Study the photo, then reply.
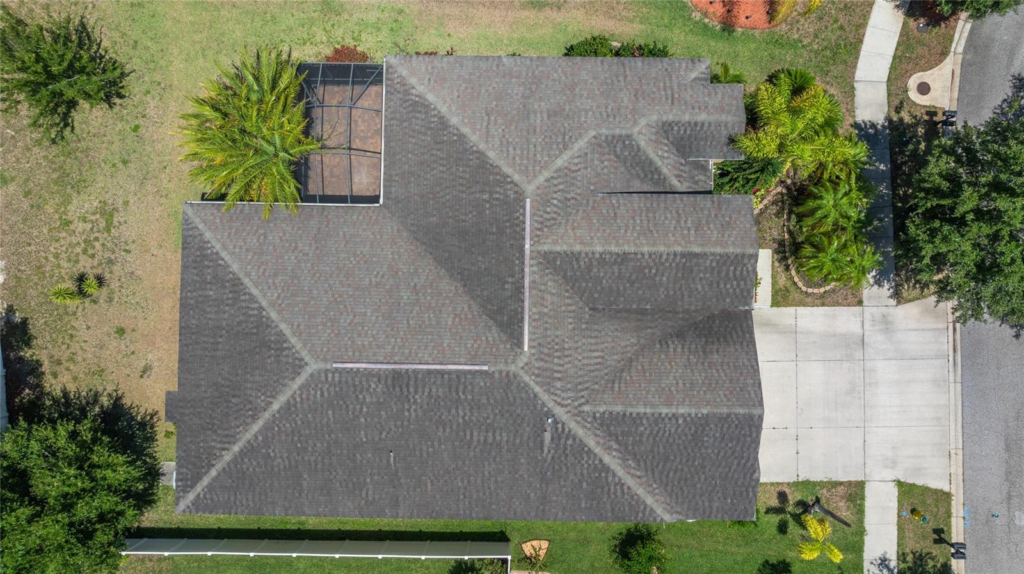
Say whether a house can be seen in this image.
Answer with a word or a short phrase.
Yes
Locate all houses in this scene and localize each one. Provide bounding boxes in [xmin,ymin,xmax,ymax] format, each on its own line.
[164,53,765,523]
